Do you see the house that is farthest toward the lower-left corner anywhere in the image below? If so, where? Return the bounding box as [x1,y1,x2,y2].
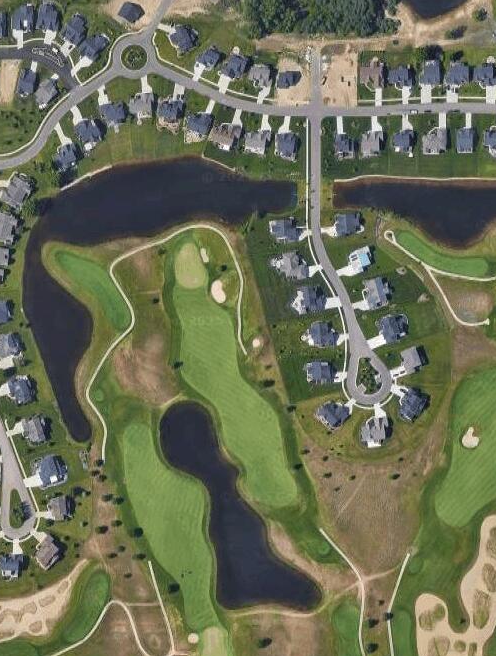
[0,553,23,580]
